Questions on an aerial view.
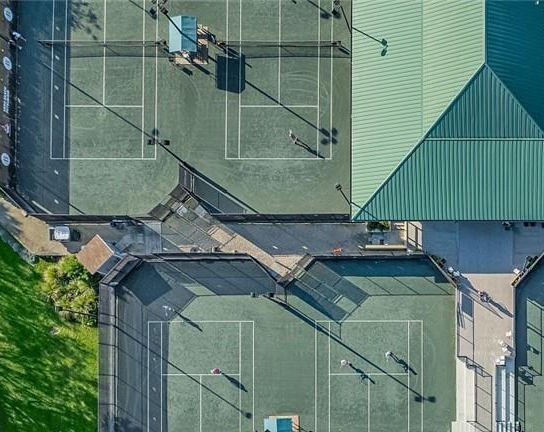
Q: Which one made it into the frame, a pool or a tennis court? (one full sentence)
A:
It is a tennis court that can be seen here.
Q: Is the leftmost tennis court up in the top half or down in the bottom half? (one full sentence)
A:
You can find the leftmost tennis court in the top half.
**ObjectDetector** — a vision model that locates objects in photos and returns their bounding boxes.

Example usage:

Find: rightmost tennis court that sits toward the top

[190,0,350,216]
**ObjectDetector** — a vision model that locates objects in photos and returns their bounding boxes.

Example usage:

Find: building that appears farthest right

[350,0,544,223]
